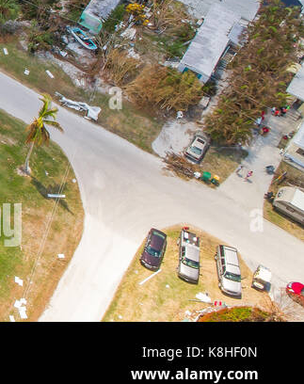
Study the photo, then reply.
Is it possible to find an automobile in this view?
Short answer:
Yes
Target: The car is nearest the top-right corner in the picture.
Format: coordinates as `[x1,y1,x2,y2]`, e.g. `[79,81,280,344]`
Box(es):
[181,129,214,165]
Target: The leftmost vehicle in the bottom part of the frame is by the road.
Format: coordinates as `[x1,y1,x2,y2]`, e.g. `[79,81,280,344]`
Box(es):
[139,226,169,273]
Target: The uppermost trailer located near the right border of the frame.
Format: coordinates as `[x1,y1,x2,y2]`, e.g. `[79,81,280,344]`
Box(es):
[256,187,304,242]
